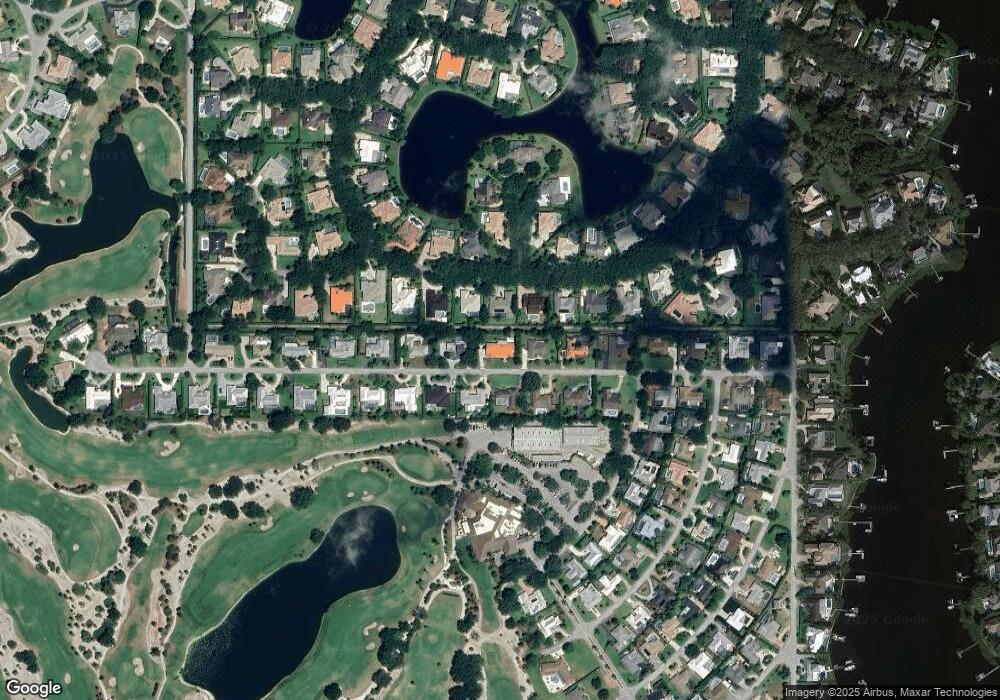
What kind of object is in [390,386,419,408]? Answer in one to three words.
house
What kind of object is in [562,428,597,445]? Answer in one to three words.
building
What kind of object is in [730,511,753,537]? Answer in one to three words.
house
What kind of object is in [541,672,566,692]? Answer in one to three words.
swimming pool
